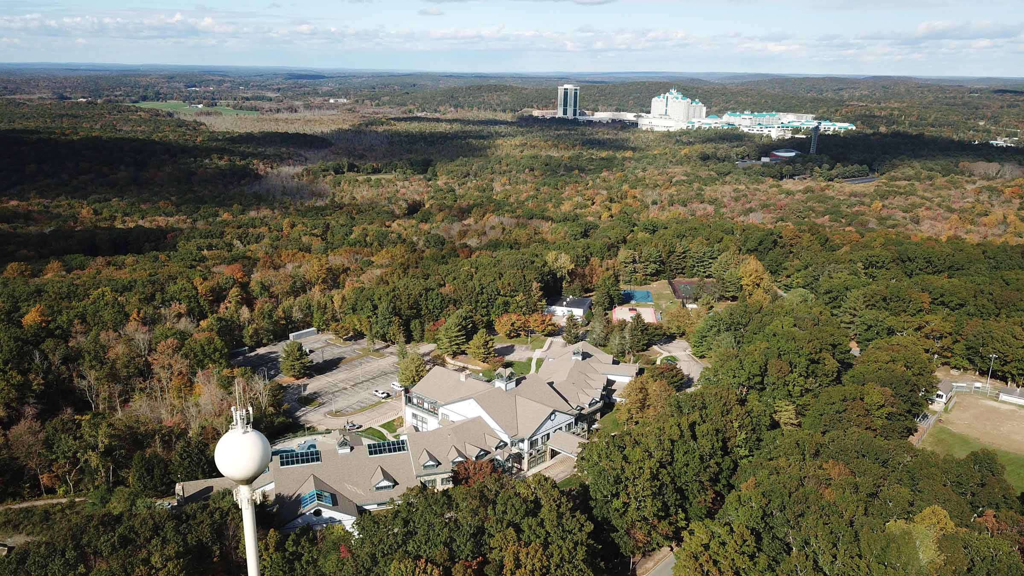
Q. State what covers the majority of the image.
trees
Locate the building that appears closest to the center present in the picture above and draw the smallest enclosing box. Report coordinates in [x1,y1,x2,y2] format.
[547,295,596,319]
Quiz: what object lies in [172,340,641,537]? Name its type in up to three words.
building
